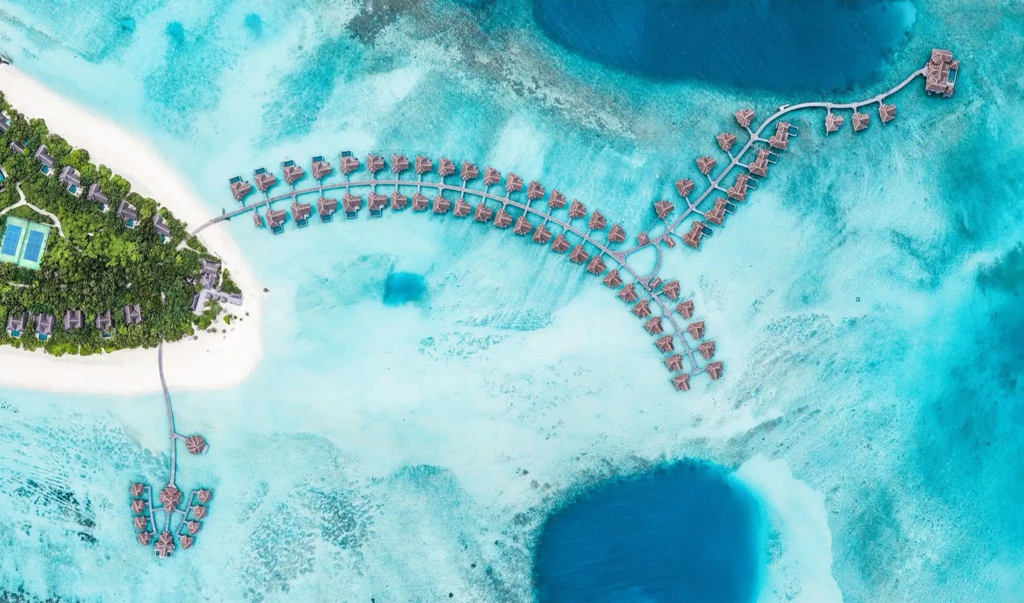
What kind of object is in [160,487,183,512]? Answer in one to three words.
building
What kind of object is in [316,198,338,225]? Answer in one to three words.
house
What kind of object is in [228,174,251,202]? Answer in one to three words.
house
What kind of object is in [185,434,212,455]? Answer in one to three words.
building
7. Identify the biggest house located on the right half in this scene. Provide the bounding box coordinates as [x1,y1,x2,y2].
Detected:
[921,48,960,98]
